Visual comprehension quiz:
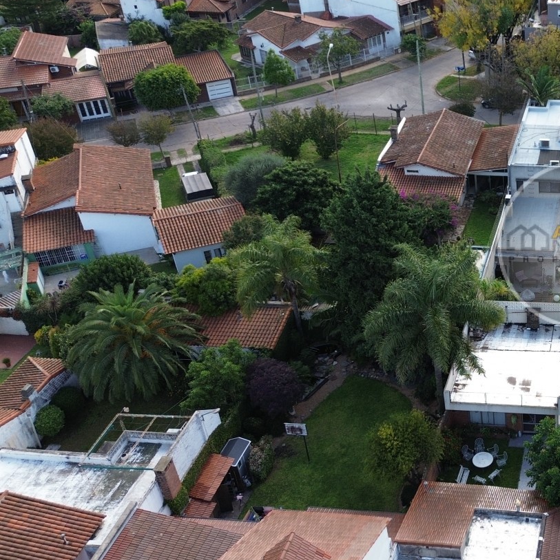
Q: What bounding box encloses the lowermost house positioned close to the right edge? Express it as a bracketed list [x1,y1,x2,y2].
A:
[394,478,560,560]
